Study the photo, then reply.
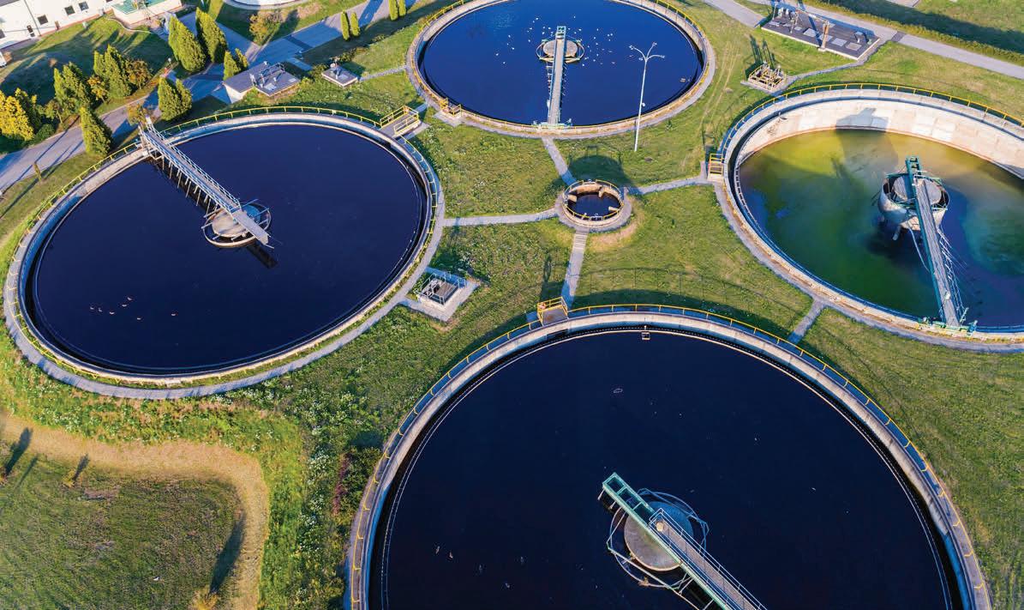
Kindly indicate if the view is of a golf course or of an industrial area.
industrial area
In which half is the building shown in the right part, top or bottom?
top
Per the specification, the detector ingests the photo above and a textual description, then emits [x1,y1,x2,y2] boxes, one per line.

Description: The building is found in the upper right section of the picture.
[762,0,880,62]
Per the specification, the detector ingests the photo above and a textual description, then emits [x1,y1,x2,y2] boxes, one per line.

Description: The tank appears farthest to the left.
[9,108,435,383]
